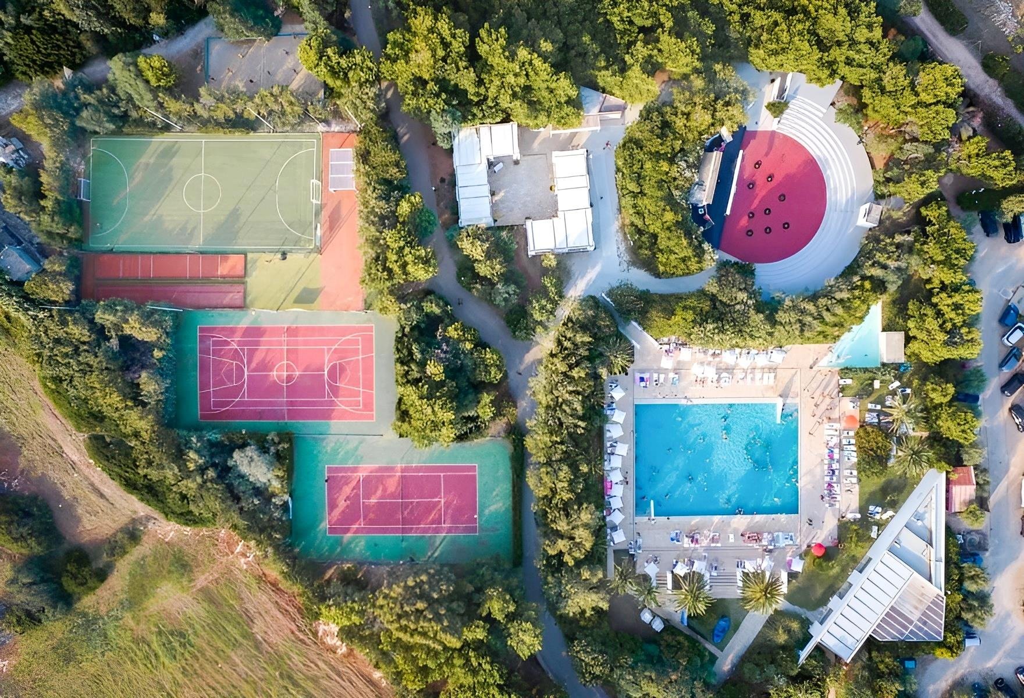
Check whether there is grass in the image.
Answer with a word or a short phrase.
Yes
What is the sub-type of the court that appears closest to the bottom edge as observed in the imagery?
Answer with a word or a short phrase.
tennis court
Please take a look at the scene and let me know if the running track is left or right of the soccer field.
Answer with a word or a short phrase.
to the right of it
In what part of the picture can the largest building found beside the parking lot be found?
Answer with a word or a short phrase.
bottom right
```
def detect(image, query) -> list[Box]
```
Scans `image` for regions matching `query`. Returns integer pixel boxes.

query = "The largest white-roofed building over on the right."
[797,467,945,665]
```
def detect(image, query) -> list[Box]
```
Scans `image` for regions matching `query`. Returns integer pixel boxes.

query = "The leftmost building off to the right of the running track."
[454,123,520,228]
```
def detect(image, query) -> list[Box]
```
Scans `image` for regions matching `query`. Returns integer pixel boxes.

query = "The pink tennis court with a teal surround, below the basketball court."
[291,435,514,563]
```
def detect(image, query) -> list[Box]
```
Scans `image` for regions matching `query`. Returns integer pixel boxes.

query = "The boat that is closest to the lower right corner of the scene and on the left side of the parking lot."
[715,618,730,644]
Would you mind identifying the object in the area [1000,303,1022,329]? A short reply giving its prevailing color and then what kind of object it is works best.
blue car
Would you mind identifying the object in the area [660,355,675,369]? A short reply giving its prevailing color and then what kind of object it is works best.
white umbrella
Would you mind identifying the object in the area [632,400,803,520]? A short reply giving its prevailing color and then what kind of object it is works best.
blue swimming pool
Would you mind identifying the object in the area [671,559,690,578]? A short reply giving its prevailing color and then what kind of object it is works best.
white umbrella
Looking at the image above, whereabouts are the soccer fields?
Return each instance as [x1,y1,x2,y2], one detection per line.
[83,132,320,252]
